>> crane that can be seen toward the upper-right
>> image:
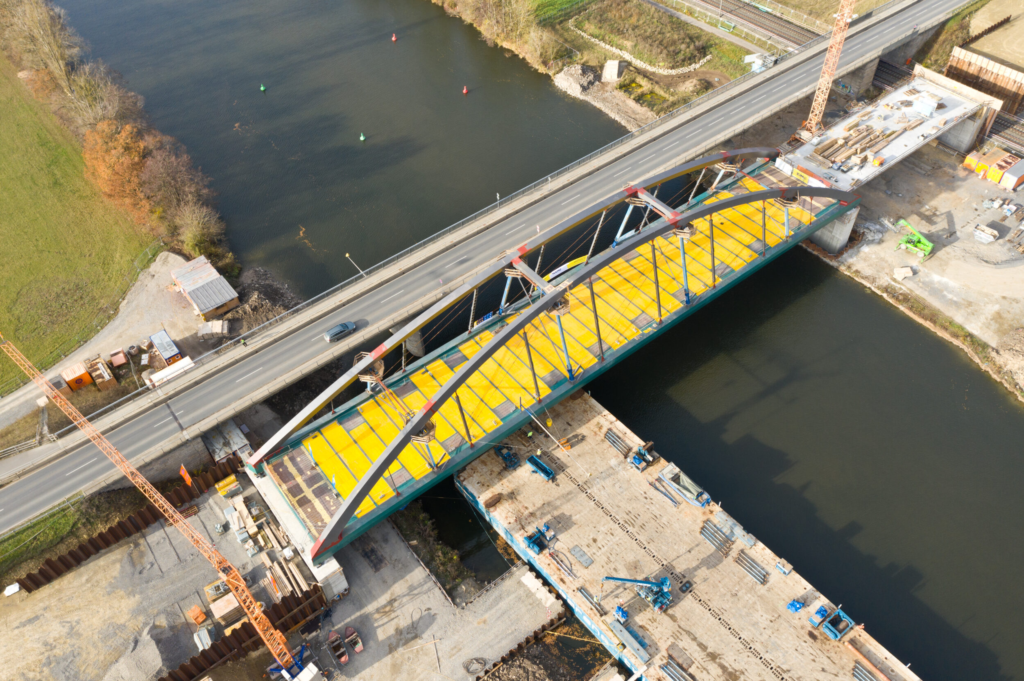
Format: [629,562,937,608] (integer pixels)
[788,0,855,139]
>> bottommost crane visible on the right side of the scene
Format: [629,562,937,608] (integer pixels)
[599,571,676,615]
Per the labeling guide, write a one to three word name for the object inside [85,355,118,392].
shipping container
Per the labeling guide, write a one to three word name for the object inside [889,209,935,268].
work vehicle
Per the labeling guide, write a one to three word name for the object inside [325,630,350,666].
boat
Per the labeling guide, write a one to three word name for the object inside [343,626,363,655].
boat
